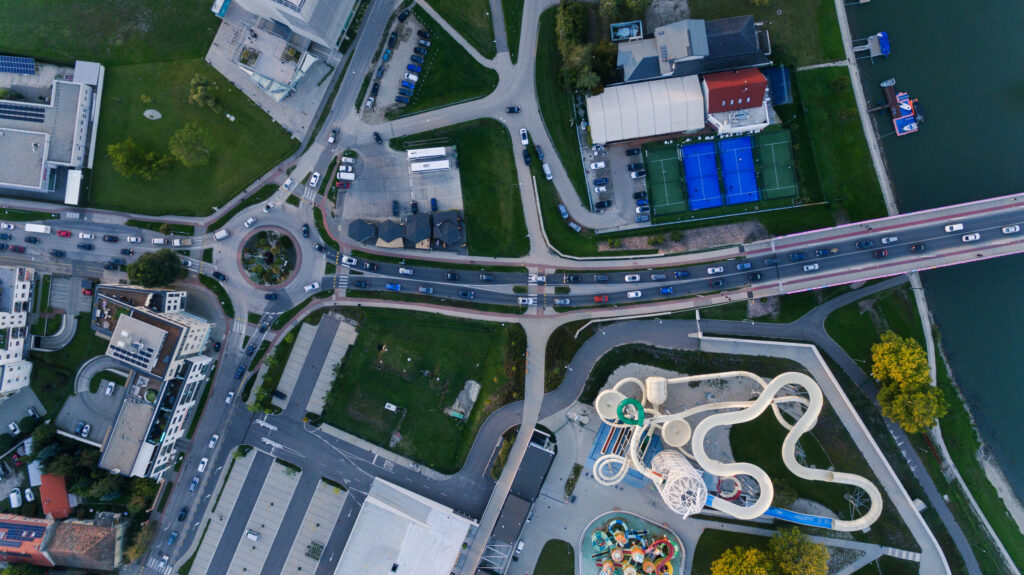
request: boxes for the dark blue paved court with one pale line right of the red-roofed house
[767,66,793,105]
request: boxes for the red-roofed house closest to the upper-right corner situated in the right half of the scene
[700,68,769,135]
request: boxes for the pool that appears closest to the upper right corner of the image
[610,20,643,42]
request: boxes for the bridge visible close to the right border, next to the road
[772,194,1024,295]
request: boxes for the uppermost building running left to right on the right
[617,15,772,84]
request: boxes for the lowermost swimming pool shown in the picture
[579,510,685,575]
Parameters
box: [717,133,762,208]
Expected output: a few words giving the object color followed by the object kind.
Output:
blue tennis court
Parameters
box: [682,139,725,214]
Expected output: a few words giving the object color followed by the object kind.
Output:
blue tennis court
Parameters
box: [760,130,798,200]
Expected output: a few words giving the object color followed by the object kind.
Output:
green tennis court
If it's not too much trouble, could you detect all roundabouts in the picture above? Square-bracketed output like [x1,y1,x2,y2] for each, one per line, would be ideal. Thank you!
[236,225,302,290]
